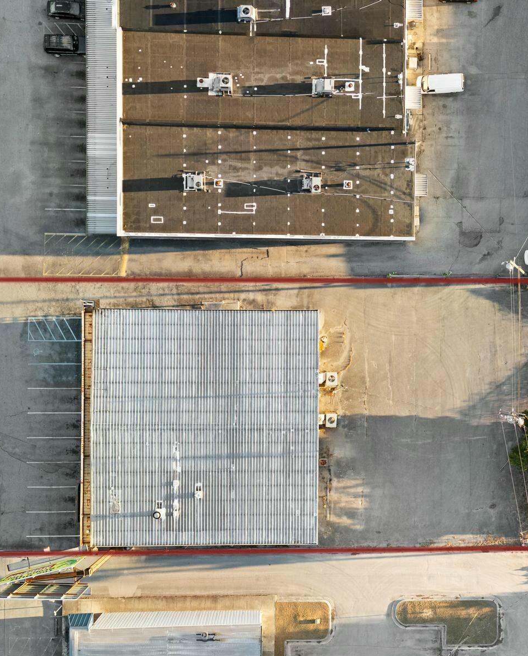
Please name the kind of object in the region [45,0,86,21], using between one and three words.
car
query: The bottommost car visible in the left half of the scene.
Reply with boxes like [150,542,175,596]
[43,33,86,56]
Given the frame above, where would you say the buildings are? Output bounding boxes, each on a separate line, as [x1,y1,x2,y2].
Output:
[67,603,262,656]
[86,0,429,248]
[78,300,320,547]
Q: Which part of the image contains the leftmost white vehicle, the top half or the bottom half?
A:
top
